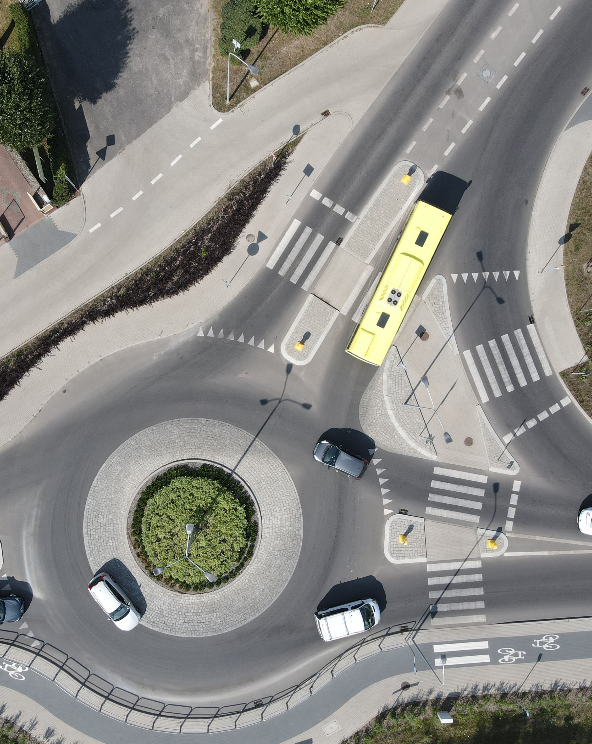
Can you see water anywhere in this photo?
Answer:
No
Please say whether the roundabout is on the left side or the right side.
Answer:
left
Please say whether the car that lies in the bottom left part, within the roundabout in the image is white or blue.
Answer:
white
